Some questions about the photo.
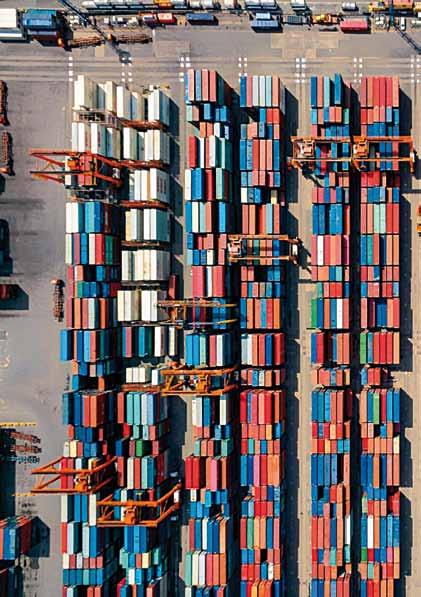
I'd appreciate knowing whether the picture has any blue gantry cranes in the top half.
No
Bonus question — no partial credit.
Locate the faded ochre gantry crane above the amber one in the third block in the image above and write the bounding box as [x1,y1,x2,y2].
[160,297,240,328]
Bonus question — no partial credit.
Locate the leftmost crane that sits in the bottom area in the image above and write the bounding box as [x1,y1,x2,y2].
[28,452,118,497]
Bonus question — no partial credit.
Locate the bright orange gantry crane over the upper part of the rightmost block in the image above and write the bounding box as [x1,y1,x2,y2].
[353,134,416,178]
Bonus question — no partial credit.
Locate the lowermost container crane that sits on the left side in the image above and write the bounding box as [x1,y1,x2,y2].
[94,476,183,529]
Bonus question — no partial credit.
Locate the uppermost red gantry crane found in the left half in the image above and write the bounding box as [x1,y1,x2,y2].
[28,147,125,189]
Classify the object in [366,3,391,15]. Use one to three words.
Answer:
vehicle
